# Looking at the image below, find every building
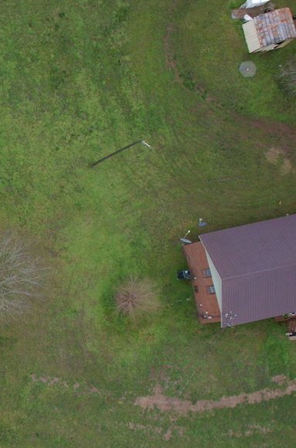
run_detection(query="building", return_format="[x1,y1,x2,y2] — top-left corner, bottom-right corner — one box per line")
[243,7,296,53]
[198,217,296,327]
